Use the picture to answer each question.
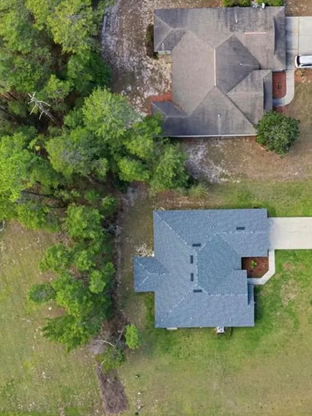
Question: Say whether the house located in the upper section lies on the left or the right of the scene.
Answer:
right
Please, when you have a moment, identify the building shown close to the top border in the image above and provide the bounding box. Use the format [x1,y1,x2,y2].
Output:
[152,4,287,139]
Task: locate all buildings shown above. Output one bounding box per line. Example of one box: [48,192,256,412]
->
[133,208,268,329]
[152,4,287,139]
